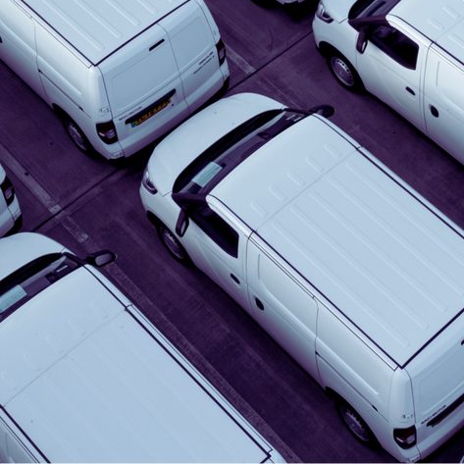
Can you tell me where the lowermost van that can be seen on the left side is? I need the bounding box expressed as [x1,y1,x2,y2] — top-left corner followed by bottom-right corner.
[0,234,286,464]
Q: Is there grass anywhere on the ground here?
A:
No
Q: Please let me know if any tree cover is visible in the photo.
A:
No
